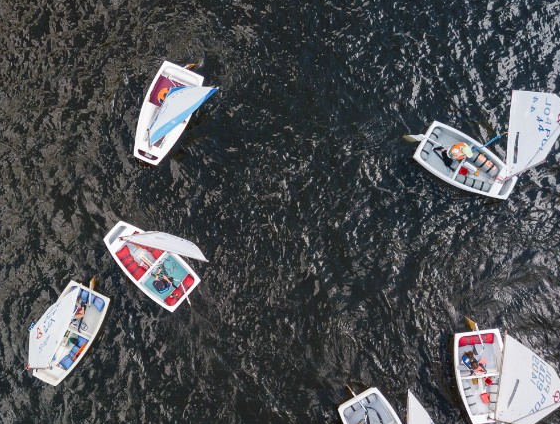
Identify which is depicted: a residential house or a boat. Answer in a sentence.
Looking from above, you can make out a boat.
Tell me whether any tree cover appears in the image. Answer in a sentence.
No, the picture contains no tree cover.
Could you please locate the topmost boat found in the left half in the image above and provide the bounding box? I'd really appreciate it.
[133,61,222,166]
